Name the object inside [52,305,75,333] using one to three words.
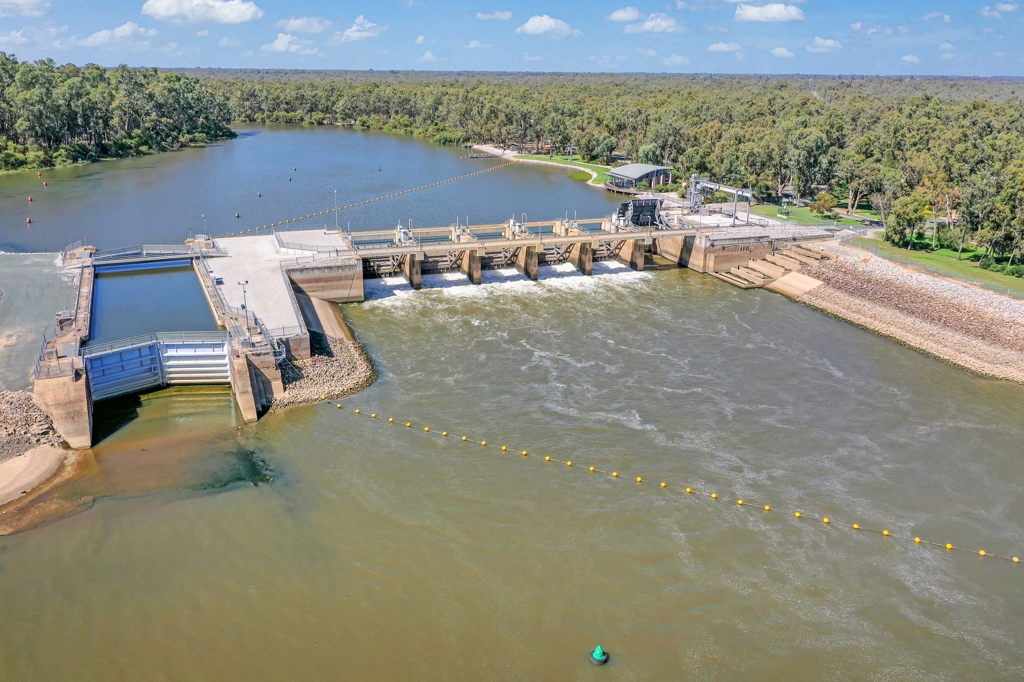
shed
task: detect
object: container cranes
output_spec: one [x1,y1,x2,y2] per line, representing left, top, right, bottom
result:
[681,166,755,225]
